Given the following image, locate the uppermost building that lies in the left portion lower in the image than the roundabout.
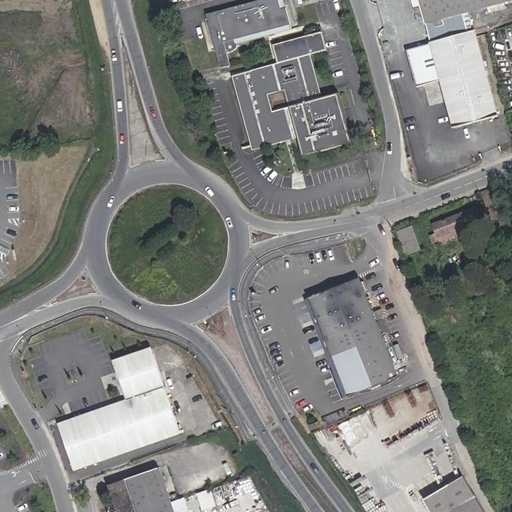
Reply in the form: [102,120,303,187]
[112,346,165,400]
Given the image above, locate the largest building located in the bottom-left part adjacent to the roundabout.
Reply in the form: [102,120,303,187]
[56,386,182,472]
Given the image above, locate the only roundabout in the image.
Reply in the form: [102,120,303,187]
[82,158,254,330]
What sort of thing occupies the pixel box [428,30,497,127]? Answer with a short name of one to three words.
building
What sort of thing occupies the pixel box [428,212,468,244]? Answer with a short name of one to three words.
house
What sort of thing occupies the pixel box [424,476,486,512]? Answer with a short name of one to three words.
building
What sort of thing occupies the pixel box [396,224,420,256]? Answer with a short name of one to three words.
shed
